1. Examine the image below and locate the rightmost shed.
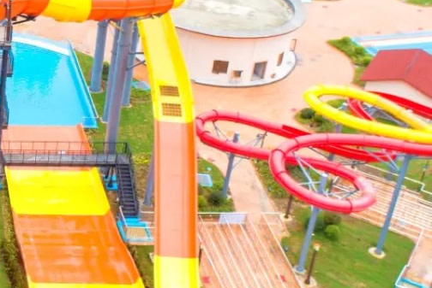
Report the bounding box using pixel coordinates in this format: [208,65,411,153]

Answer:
[367,39,432,119]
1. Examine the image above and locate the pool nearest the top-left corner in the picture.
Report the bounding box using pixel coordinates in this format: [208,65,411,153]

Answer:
[2,40,95,130]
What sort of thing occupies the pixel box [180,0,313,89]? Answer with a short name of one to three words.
building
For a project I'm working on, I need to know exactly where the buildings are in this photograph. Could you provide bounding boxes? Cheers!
[367,39,432,119]
[180,0,313,89]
